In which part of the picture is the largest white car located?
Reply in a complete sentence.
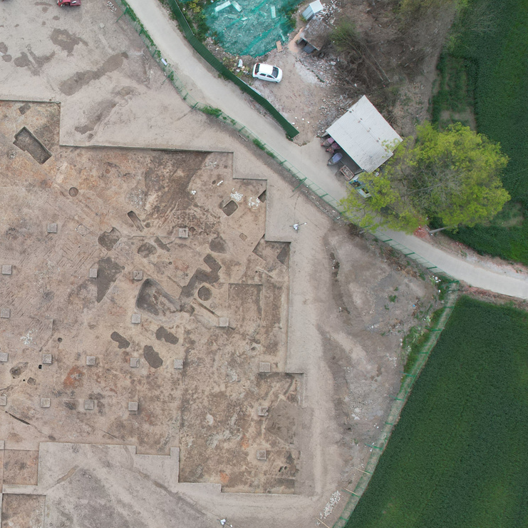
The largest white car sits in the top section of the image.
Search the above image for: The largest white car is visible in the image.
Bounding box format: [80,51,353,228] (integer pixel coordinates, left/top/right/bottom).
[250,63,284,83]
